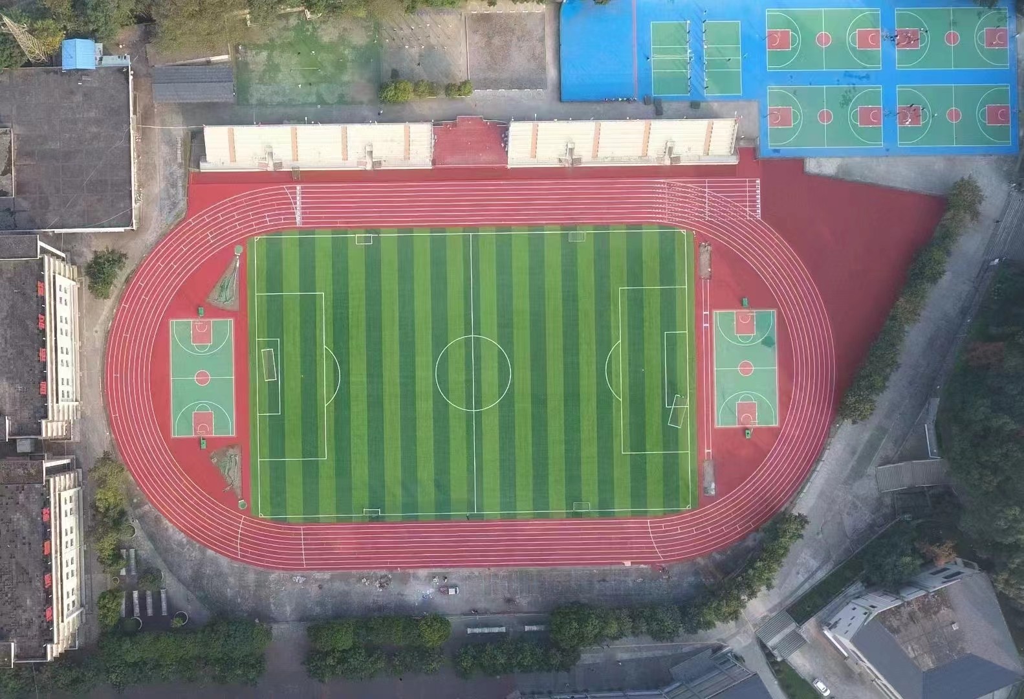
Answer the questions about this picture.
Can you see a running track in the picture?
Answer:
Yes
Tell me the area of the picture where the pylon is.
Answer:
top left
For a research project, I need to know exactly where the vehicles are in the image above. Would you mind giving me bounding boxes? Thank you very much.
[812,676,830,694]
[440,586,459,595]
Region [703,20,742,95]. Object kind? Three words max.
sports court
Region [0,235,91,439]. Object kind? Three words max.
building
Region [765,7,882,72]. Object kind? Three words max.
basketball court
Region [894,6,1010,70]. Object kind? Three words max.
basketball court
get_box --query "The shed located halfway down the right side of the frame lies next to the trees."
[923,397,940,423]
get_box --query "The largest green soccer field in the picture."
[248,225,698,521]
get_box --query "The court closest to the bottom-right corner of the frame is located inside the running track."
[712,309,779,428]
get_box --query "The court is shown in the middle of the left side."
[169,318,236,437]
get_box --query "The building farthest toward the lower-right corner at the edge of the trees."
[823,564,1024,699]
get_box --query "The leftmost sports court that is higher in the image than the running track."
[651,21,690,96]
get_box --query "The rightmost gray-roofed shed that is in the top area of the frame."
[151,66,236,106]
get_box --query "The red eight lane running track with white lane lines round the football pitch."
[105,146,951,569]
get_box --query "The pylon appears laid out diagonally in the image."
[0,22,51,66]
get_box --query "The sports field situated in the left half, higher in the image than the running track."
[237,13,382,105]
